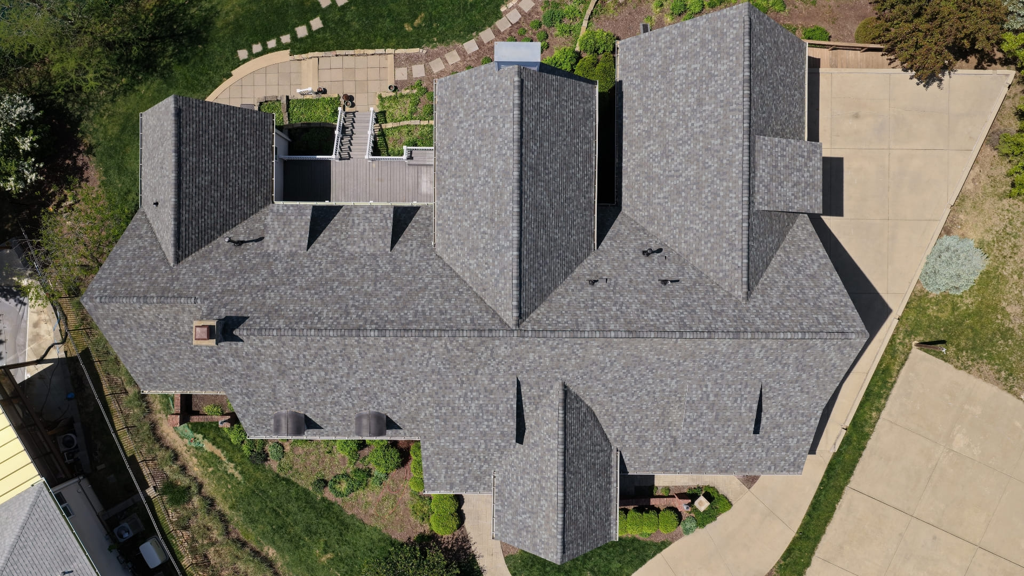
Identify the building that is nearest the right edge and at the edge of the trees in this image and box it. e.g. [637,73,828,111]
[83,3,869,564]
